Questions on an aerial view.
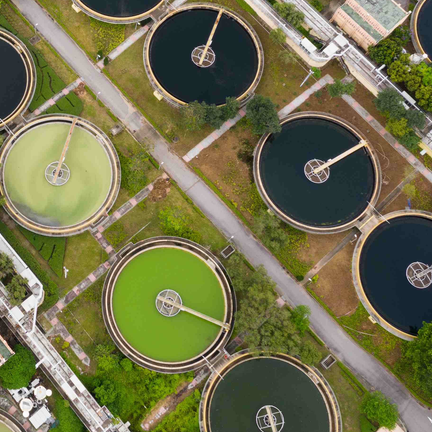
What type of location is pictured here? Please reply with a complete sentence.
The picture captures an industrial area.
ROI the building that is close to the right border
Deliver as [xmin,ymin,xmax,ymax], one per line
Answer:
[332,0,411,54]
